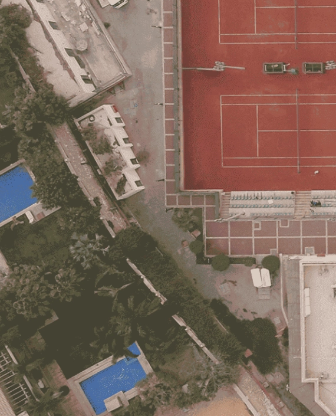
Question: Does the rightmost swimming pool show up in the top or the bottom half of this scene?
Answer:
bottom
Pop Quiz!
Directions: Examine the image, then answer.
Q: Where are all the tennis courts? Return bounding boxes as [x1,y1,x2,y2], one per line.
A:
[183,69,336,219]
[181,0,336,69]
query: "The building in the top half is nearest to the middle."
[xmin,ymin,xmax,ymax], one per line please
[75,105,156,211]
